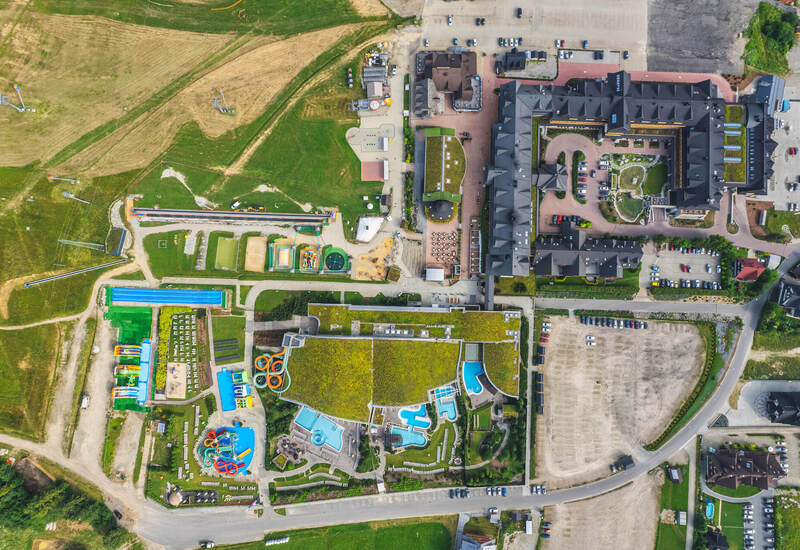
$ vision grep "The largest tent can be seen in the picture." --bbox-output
[355,218,383,242]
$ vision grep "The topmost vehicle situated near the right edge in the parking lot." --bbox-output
[775,100,791,112]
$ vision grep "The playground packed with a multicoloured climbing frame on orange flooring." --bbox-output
[294,248,322,273]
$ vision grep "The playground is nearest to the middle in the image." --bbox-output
[355,238,394,280]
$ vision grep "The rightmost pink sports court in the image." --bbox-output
[362,161,383,180]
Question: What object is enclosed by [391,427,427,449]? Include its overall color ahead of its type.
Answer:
blue swimming pool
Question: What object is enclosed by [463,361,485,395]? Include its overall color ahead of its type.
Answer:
blue swimming pool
